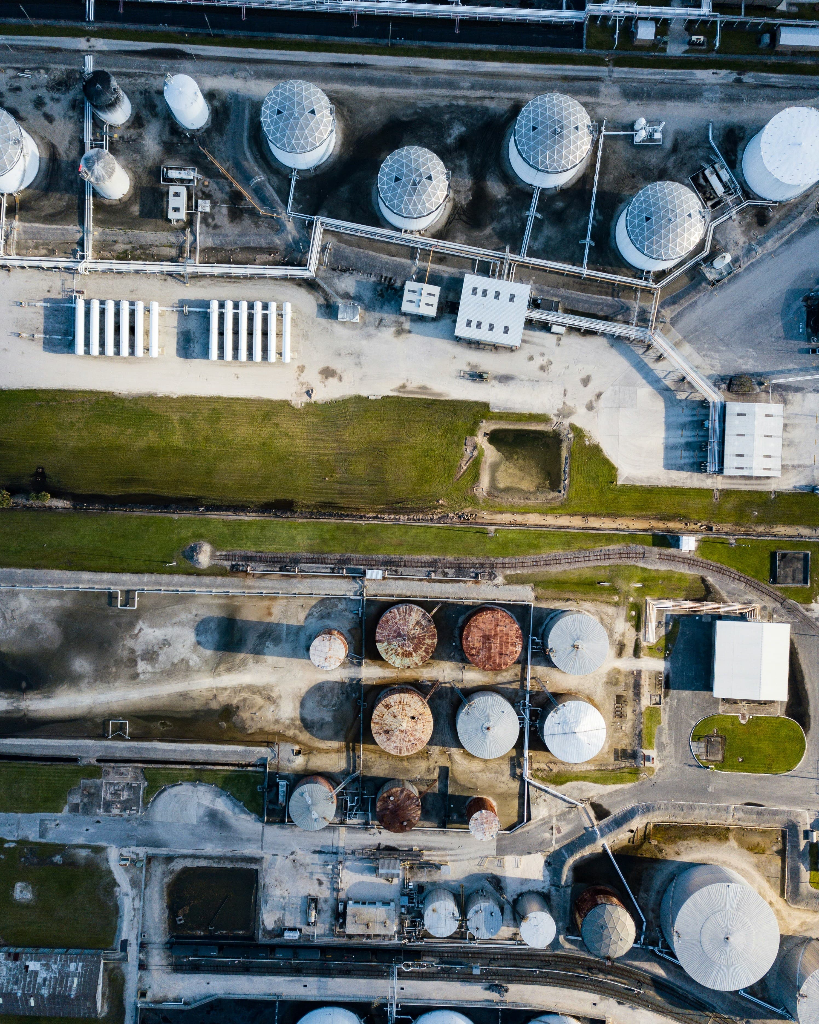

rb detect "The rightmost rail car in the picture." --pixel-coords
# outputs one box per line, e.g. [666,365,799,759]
[375,949,424,964]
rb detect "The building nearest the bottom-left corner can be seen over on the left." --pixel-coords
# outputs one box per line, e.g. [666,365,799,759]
[0,942,107,1017]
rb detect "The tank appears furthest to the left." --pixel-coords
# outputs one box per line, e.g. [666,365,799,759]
[0,108,42,195]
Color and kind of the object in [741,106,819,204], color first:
white storage tank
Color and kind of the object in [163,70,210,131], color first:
white storage tank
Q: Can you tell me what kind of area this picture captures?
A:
industrial area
